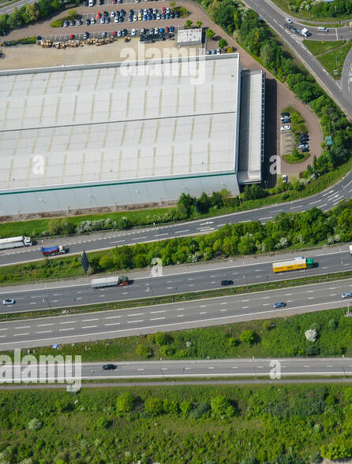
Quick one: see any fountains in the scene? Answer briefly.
No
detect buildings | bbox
[178,27,203,47]
[0,52,241,212]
